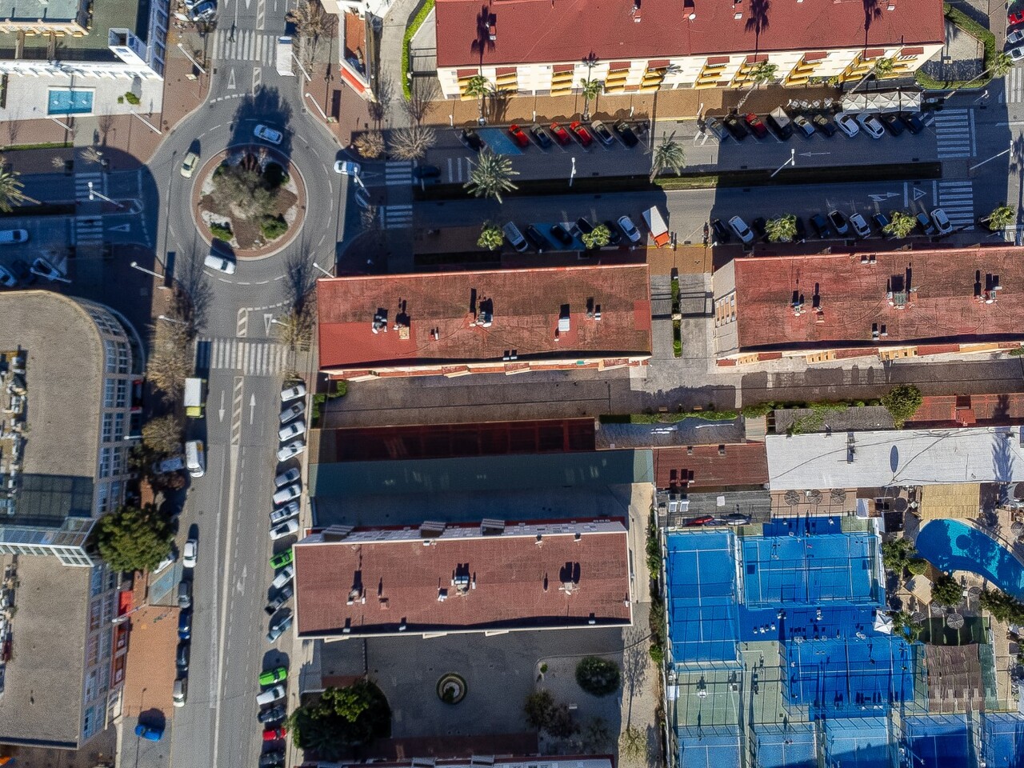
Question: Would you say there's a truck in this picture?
Yes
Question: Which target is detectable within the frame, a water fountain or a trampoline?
water fountain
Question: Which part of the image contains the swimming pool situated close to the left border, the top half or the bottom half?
top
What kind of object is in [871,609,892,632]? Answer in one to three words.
umbrella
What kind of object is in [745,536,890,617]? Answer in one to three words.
sports court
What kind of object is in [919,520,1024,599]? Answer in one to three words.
swimming pool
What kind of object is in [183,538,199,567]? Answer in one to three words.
car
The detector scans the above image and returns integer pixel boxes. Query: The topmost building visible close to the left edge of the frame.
[0,0,166,85]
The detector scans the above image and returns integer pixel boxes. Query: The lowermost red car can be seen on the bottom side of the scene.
[262,724,289,740]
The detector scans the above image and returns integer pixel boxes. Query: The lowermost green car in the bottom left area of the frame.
[259,667,287,685]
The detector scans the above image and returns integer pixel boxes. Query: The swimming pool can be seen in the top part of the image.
[48,89,91,114]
